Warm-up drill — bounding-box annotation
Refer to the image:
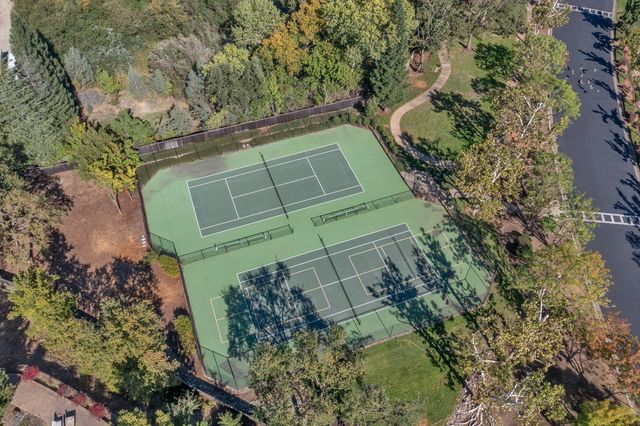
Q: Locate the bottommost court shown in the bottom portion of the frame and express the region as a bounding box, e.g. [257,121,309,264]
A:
[181,198,491,392]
